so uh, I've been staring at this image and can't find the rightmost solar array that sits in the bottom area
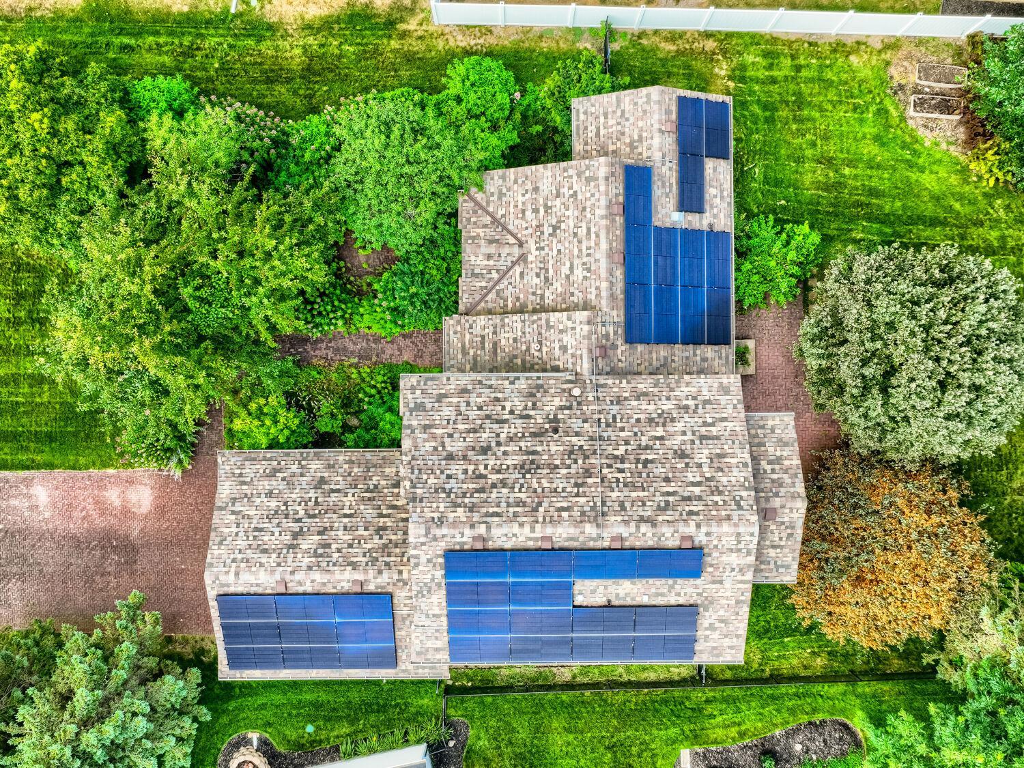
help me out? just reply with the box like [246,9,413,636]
[442,550,705,665]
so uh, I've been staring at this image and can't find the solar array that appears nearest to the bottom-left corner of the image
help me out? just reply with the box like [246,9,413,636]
[216,593,397,671]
